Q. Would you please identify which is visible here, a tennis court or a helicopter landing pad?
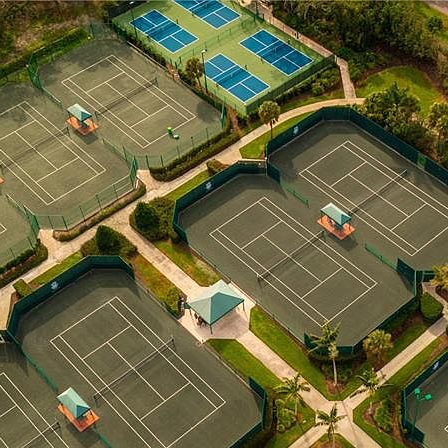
tennis court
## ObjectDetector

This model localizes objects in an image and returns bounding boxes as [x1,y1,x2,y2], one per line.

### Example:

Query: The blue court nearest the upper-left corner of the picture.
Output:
[129,8,199,52]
